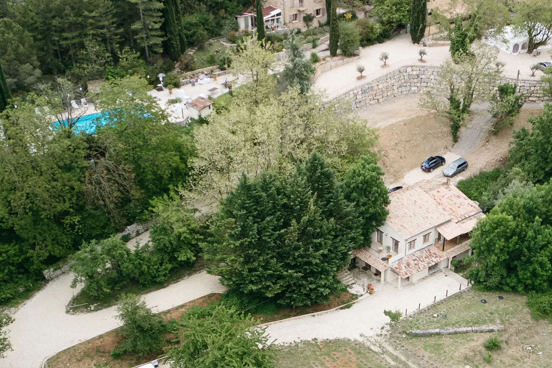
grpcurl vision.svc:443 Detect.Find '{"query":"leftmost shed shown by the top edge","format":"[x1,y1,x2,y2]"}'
[235,12,253,41]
